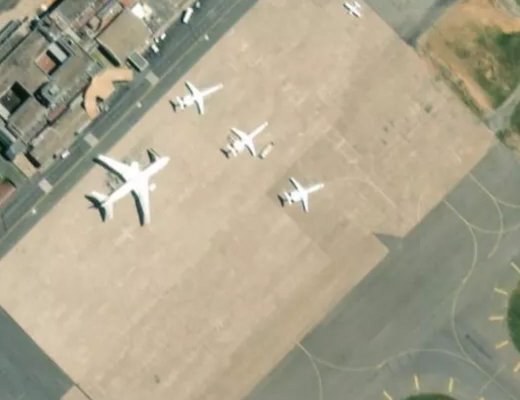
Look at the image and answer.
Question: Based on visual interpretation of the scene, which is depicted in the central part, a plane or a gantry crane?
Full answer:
There is a plane in the central part.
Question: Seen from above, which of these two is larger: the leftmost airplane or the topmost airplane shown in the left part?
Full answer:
The topmost airplane shown in the left part is smaller than the leftmost airplane.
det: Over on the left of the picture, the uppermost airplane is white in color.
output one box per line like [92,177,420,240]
[175,81,222,116]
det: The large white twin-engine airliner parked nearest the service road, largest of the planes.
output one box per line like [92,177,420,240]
[91,153,170,225]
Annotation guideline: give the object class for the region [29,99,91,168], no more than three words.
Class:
building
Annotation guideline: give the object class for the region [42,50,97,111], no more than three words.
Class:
building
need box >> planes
[175,81,222,116]
[283,177,323,212]
[346,1,361,17]
[91,153,170,225]
[225,123,267,158]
